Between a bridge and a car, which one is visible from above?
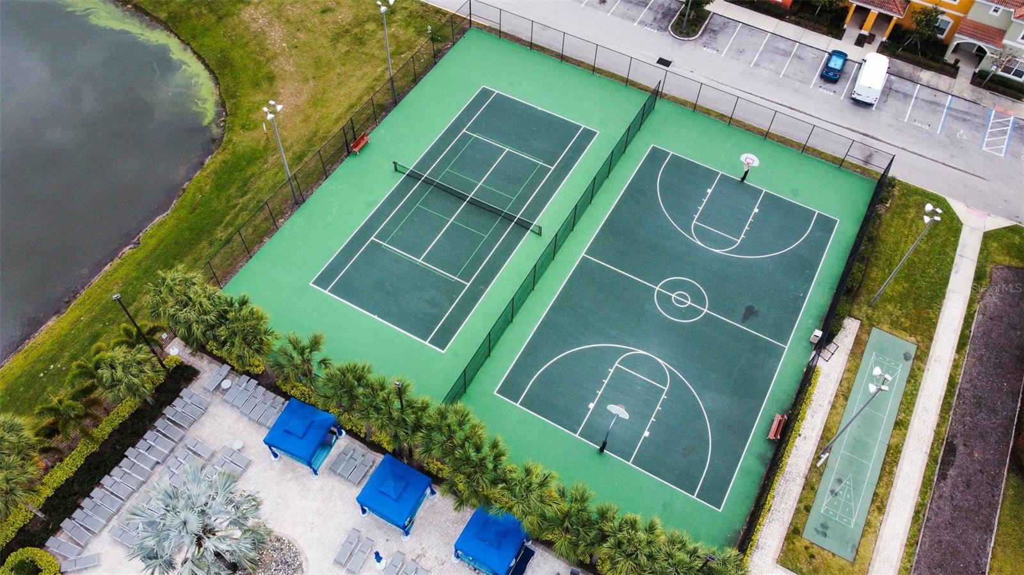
car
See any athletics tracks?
No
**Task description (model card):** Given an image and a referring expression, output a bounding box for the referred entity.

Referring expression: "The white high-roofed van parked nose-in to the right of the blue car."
[849,55,894,106]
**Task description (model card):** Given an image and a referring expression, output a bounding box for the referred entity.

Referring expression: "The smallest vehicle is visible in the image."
[819,51,850,83]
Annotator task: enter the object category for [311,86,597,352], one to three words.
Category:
tennis court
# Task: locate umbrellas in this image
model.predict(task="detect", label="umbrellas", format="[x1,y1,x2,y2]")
[374,555,388,574]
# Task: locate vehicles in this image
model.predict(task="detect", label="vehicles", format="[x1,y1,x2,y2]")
[849,55,894,106]
[819,51,850,83]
